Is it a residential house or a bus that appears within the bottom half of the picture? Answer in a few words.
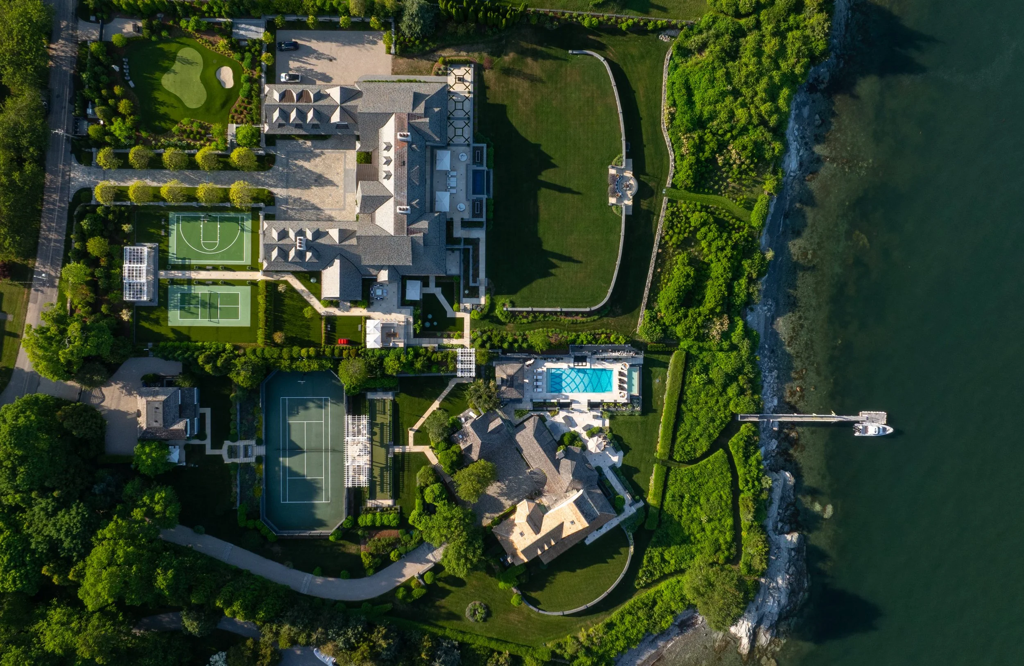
residential house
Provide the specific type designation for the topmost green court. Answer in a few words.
basketball court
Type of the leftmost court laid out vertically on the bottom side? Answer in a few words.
tennis court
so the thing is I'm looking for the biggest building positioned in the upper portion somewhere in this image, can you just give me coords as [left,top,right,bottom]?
[263,82,447,300]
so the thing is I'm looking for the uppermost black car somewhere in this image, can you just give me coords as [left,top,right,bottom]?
[277,40,300,52]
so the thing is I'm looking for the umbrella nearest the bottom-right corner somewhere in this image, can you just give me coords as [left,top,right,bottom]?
[587,437,603,453]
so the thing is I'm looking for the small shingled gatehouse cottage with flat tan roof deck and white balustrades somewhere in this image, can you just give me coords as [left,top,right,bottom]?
[137,387,201,439]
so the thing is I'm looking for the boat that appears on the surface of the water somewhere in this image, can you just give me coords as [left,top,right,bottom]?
[851,423,895,436]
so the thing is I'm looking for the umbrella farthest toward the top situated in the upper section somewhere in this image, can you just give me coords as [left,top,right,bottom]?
[437,151,450,170]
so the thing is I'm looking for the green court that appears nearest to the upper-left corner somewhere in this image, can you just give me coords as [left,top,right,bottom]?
[169,212,251,265]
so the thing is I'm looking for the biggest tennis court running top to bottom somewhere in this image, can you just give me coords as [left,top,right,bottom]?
[265,370,344,532]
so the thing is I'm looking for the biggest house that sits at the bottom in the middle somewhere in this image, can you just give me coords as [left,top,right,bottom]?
[450,407,617,578]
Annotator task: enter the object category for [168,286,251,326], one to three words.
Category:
sports court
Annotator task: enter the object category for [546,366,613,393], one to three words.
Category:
swimming pool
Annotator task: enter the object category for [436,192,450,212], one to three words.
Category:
umbrella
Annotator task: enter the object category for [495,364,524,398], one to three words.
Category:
building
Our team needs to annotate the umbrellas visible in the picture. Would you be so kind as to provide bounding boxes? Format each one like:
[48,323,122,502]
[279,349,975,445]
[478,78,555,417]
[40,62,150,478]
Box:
[587,437,603,453]
[407,280,421,300]
[170,446,182,464]
[367,334,381,348]
[436,192,450,212]
[367,320,381,334]
[437,151,450,170]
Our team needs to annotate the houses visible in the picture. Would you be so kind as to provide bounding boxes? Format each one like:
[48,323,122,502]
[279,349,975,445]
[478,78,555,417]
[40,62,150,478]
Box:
[450,407,617,578]
[137,387,201,439]
[263,82,447,300]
